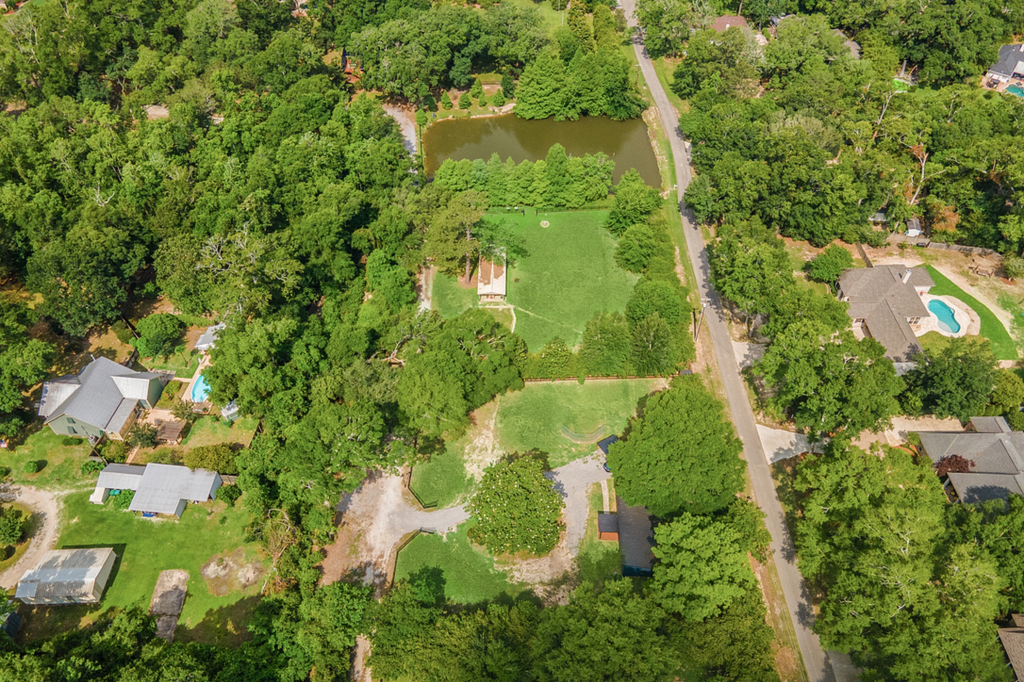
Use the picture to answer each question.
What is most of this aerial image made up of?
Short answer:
trees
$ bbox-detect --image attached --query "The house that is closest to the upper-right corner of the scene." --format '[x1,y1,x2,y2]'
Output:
[984,42,1024,87]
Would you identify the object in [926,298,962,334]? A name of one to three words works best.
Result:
swimming pool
